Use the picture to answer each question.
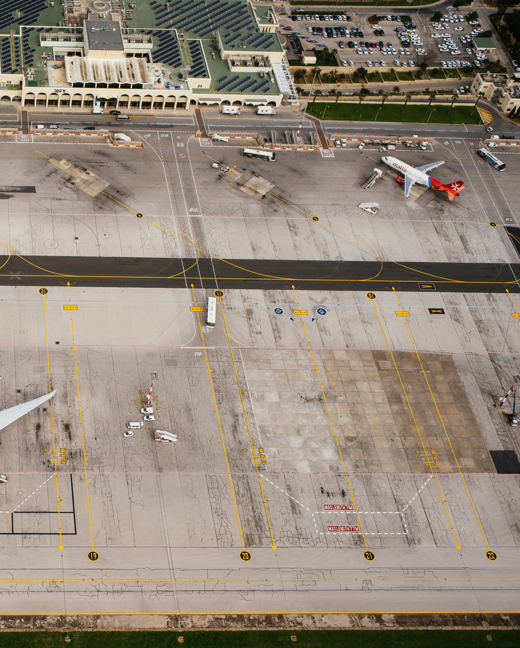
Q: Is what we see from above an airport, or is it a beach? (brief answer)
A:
airport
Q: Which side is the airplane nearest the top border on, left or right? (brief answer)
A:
right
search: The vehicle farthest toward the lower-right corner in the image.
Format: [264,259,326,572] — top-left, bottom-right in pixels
[507,403,520,429]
